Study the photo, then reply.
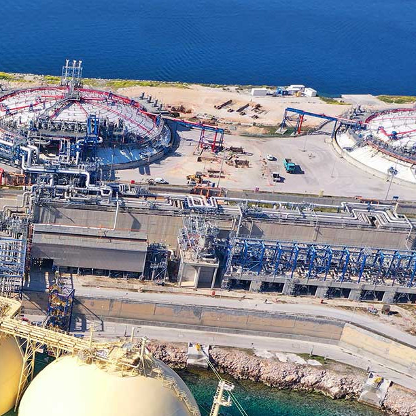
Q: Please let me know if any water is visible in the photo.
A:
Yes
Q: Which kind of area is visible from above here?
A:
industrial area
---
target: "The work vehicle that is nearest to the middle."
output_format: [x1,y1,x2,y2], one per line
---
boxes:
[174,171,202,193]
